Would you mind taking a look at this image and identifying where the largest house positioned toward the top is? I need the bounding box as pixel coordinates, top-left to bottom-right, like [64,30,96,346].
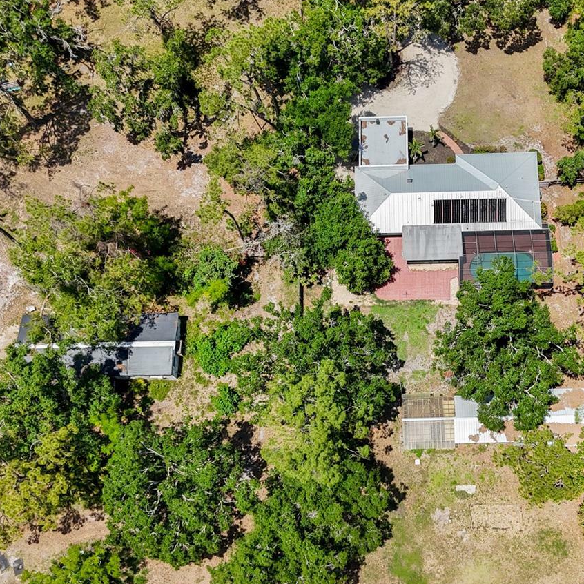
[353,152,541,266]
